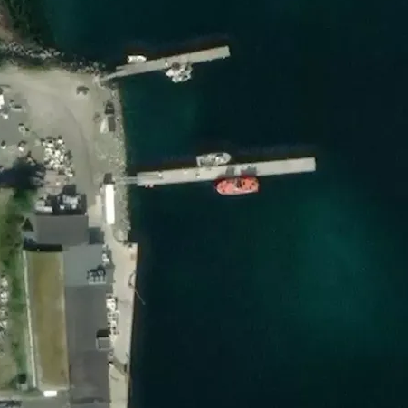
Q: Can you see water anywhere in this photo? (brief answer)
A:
Yes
